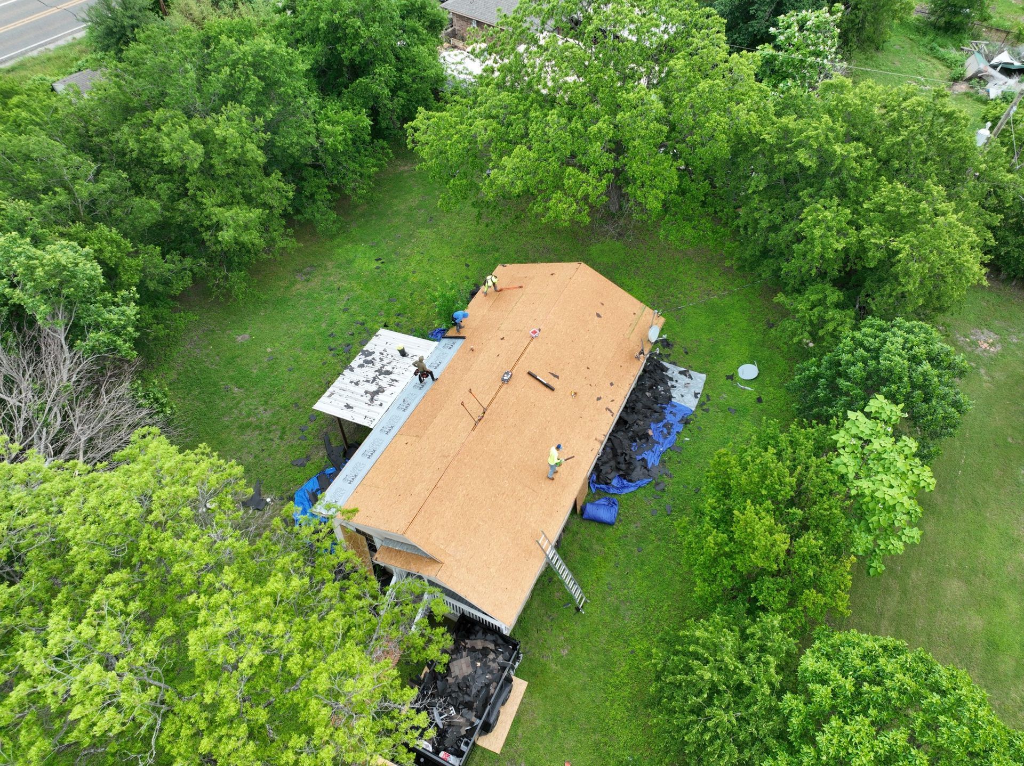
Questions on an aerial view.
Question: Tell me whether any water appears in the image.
No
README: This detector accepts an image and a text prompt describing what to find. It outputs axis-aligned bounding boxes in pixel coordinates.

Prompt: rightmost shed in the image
[964,50,1024,98]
